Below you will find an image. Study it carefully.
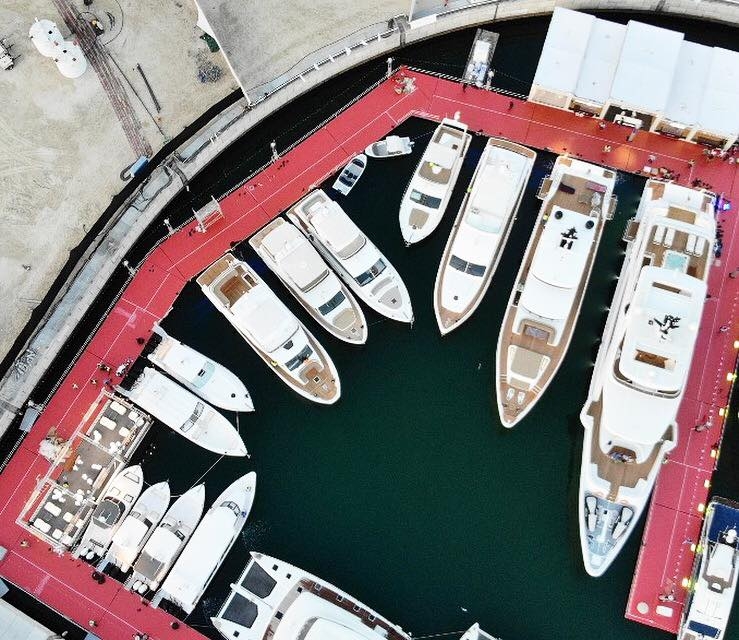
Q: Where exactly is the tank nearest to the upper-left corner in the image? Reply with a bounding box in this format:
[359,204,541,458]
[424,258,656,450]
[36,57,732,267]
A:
[33,25,70,61]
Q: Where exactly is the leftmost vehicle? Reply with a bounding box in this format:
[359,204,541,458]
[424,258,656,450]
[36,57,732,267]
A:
[0,37,32,74]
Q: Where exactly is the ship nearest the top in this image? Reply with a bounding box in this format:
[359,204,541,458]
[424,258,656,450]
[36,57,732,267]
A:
[461,33,499,86]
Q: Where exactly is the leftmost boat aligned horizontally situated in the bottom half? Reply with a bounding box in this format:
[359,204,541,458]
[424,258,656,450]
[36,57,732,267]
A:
[211,551,419,640]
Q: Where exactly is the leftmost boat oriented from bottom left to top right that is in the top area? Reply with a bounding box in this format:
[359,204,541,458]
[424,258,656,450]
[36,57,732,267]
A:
[333,154,367,198]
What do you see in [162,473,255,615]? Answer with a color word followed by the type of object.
white boat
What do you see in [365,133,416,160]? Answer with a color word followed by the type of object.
white boat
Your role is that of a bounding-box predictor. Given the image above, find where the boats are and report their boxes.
[577,179,716,577]
[129,370,249,458]
[211,551,419,640]
[149,337,254,411]
[108,481,171,578]
[401,114,471,246]
[250,219,367,345]
[196,254,336,404]
[333,154,367,198]
[162,473,255,615]
[79,465,142,565]
[500,157,617,427]
[683,490,739,640]
[135,482,206,592]
[365,133,416,160]
[287,189,413,322]
[437,138,535,334]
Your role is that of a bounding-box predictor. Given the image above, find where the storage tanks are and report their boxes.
[33,25,70,61]
[56,44,92,82]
